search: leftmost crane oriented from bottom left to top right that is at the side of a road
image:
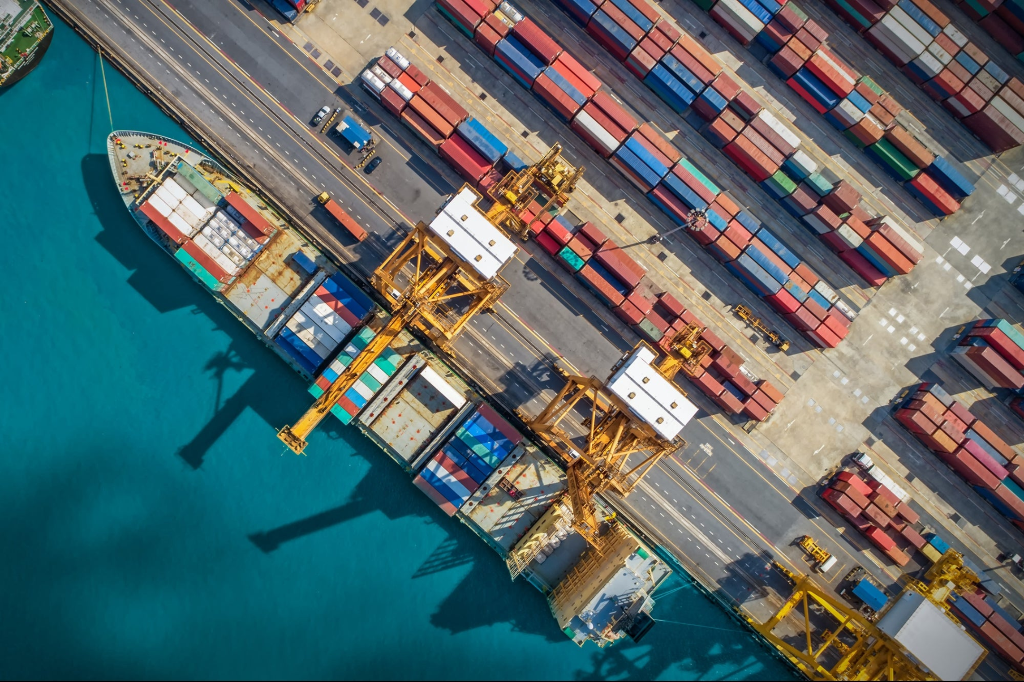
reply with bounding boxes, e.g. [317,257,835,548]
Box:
[264,165,543,472]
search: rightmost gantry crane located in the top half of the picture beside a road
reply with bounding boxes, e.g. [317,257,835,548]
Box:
[504,137,591,243]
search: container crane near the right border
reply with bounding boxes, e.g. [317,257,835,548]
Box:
[750,555,990,682]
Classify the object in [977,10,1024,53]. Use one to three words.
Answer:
shipping container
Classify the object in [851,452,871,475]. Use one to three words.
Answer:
vehicle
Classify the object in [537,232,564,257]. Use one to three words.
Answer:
shipping container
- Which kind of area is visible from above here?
port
